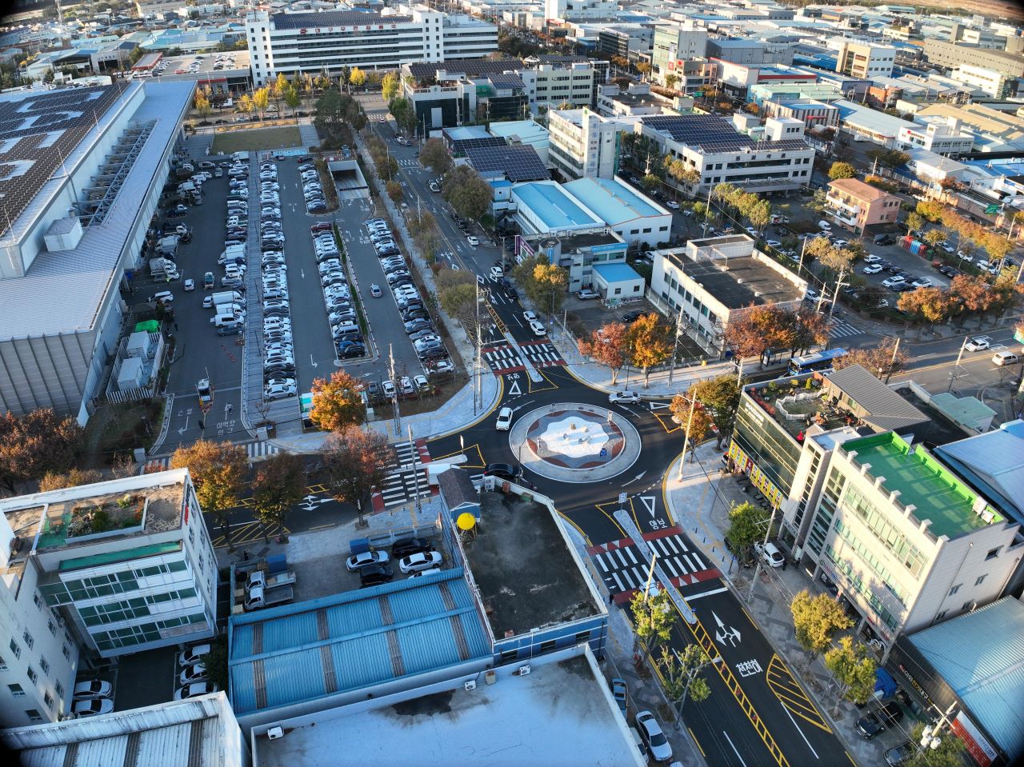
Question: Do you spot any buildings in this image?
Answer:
Yes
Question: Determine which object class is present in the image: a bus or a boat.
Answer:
bus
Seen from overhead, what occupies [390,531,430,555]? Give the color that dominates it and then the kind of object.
black car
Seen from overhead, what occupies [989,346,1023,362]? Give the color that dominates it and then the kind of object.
white vehicle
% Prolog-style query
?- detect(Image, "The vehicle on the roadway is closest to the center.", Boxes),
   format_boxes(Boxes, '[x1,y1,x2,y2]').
[496,403,514,427]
